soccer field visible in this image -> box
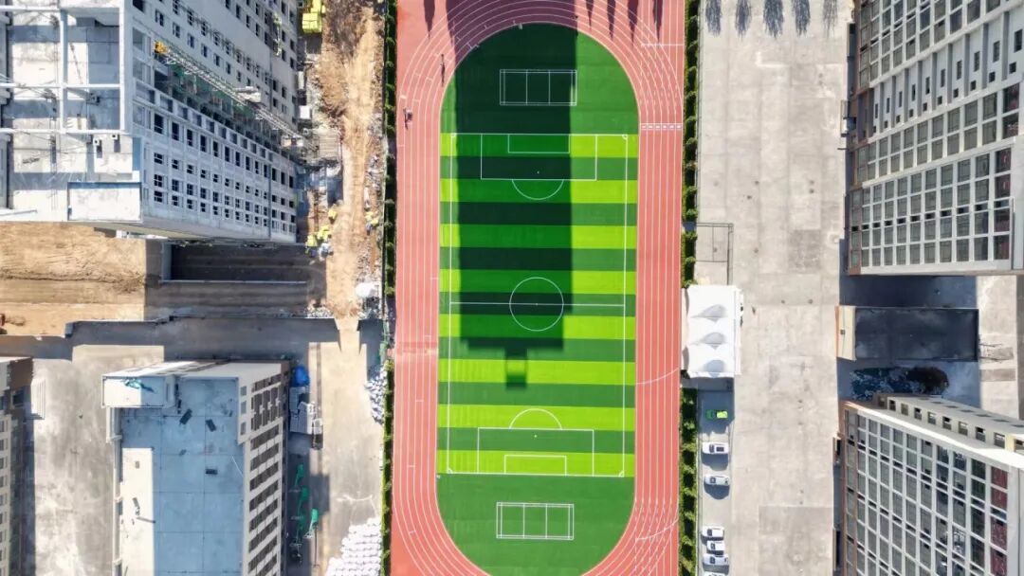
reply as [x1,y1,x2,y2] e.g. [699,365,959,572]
[437,23,638,576]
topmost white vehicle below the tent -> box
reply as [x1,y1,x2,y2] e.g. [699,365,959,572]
[701,443,730,457]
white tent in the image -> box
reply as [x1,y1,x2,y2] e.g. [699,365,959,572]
[679,284,741,378]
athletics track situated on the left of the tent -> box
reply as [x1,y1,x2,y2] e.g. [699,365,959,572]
[391,0,685,576]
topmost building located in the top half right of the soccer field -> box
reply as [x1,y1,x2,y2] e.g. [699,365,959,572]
[838,0,1024,279]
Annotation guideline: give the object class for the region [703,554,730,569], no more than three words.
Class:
car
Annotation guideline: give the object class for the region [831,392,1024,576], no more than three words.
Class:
building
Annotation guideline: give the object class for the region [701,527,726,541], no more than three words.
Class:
car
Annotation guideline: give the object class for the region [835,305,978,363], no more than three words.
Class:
building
